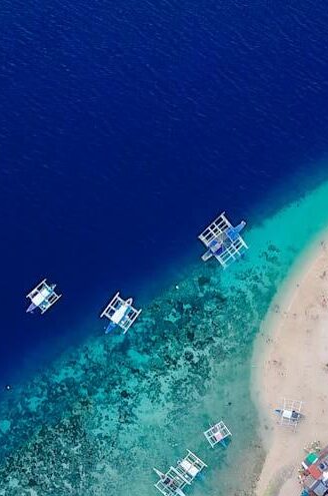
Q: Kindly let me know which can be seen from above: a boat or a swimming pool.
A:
boat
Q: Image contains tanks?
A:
No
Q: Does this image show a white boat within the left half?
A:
Yes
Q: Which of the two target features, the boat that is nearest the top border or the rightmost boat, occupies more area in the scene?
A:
the boat that is nearest the top border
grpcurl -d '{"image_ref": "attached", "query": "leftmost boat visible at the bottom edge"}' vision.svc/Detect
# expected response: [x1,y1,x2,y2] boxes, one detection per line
[152,466,189,496]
